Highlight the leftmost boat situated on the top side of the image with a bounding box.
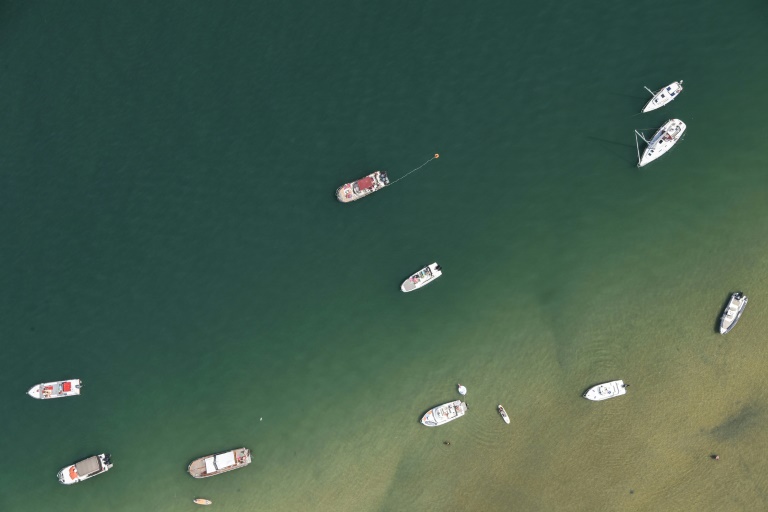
[338,172,392,198]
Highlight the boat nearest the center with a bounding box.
[400,262,442,291]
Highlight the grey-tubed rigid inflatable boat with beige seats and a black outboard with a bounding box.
[721,292,748,334]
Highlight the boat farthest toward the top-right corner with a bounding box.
[641,81,684,114]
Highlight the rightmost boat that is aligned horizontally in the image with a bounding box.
[582,379,628,401]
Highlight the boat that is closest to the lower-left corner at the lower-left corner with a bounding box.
[58,454,113,483]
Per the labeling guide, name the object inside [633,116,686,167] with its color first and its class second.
white boat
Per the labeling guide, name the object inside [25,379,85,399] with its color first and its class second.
white boat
